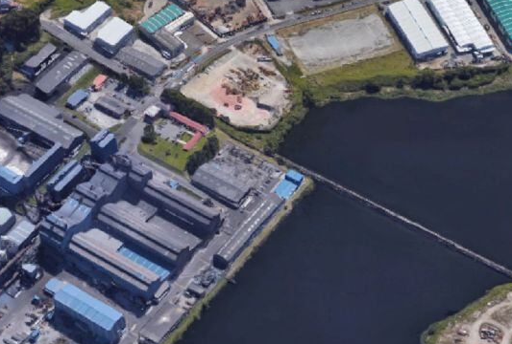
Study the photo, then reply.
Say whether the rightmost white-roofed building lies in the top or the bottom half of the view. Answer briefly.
top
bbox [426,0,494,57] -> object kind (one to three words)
building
